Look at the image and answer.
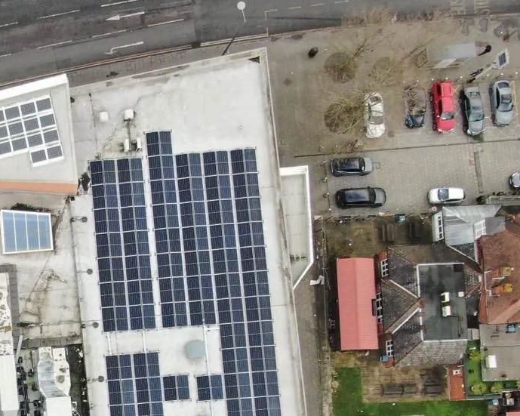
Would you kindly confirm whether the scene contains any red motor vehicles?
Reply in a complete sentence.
Yes, there is a red motor vehicle in the image.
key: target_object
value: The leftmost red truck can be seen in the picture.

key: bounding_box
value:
[430,78,458,133]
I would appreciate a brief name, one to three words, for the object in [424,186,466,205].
car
